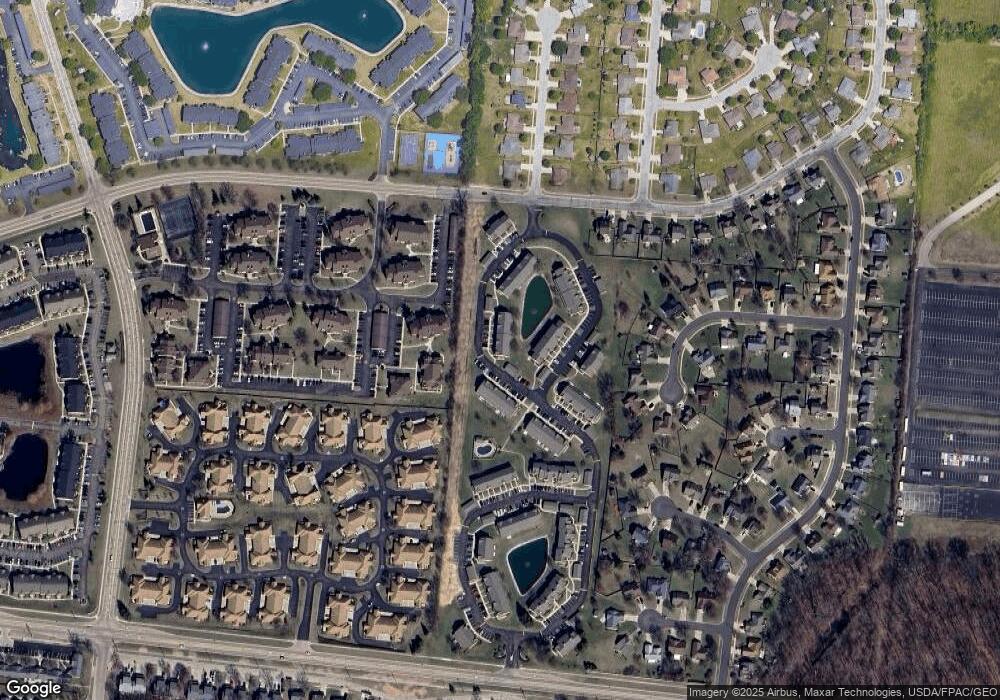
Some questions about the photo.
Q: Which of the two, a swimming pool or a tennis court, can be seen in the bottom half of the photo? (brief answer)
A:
swimming pool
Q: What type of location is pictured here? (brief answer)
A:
residential area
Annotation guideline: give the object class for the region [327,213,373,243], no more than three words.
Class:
building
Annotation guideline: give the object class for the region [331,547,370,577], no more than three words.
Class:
house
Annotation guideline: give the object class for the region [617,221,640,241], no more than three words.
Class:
house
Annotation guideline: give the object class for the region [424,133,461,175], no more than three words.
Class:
sports court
